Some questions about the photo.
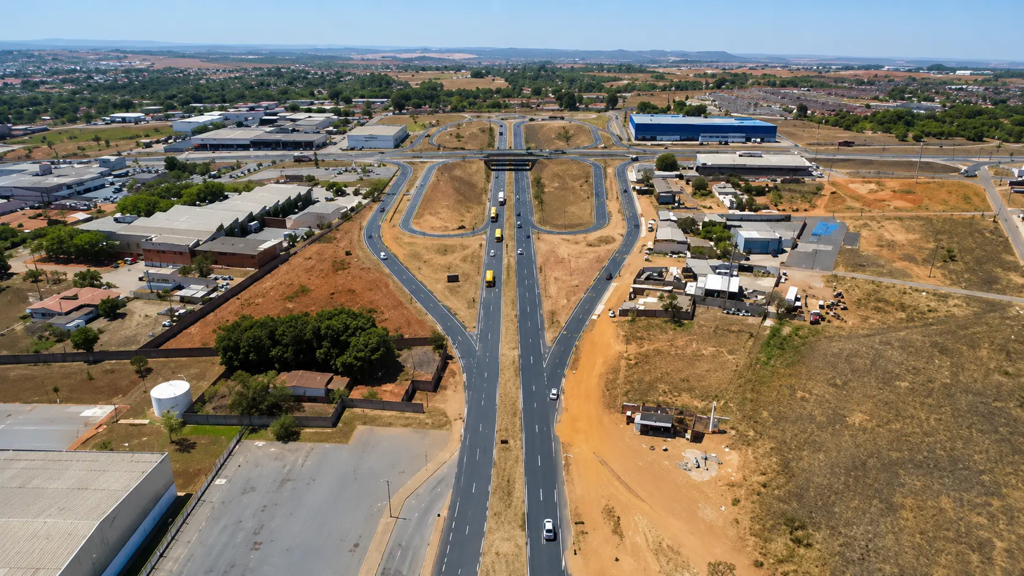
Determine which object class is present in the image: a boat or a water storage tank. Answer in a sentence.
Of the two, only a water storage tank appears.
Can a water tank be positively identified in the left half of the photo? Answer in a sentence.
Yes, a water tank is visible in the left half of the photo.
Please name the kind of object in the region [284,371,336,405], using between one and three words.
house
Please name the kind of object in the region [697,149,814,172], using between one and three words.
building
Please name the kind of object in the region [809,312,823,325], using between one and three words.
vehicle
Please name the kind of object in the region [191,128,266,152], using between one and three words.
shed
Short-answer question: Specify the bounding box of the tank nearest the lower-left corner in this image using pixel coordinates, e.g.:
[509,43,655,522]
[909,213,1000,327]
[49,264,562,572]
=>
[151,370,201,418]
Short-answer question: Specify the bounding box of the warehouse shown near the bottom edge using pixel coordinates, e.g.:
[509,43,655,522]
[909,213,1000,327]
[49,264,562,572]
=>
[0,449,177,576]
